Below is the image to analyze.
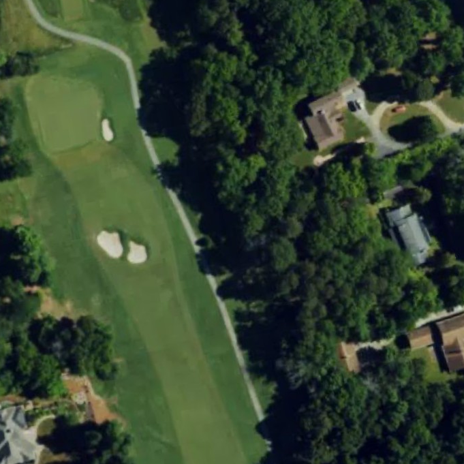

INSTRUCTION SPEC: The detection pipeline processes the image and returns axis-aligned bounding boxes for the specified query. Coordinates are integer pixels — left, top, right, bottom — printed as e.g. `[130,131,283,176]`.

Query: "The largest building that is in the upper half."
[304,76,362,150]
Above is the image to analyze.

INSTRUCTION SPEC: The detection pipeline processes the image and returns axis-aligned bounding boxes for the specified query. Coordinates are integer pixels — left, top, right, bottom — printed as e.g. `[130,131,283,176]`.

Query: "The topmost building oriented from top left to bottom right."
[387,204,432,266]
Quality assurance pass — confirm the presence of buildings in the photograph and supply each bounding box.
[0,405,44,464]
[304,76,362,150]
[433,314,464,376]
[387,204,432,266]
[338,342,362,374]
[407,326,434,350]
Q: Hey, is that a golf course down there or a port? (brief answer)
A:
golf course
